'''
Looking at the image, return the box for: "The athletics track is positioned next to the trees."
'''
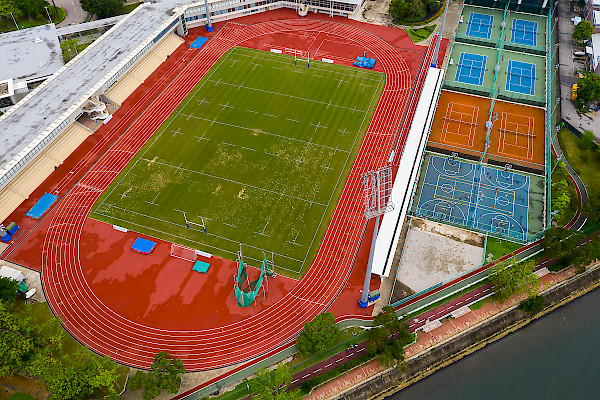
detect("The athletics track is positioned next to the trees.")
[42,19,412,369]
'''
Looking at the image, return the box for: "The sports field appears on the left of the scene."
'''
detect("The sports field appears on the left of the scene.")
[88,46,386,280]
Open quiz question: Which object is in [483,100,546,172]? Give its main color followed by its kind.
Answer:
orange tennis court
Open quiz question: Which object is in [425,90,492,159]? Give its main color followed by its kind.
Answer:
orange tennis court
